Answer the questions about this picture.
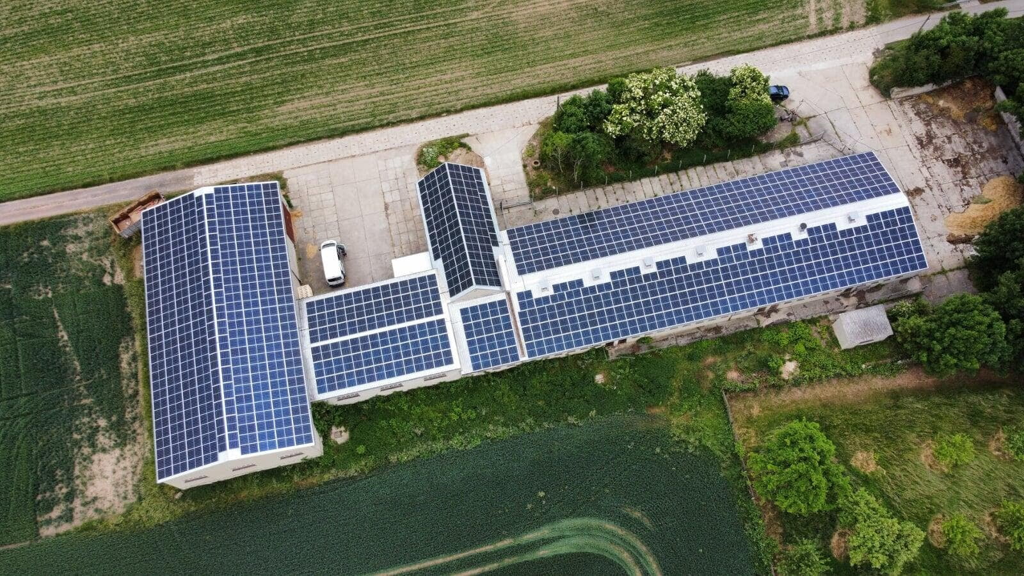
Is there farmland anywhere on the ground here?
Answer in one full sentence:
Yes, the picture does contain farmland.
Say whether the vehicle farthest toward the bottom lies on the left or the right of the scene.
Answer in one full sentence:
The vehicle farthest toward the bottom appears in the left half of the scene.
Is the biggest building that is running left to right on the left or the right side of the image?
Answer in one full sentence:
The biggest building that is running left to right appears in the right half of the scene.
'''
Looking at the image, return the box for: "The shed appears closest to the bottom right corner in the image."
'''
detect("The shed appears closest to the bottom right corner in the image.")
[832,304,894,350]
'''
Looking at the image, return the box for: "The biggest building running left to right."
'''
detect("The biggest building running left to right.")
[499,151,930,364]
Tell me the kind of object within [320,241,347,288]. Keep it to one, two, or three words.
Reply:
vehicle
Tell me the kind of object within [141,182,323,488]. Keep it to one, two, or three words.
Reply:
barn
